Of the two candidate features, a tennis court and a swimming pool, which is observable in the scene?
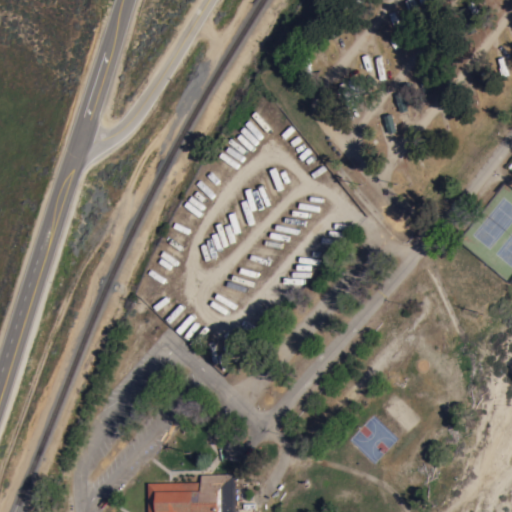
tennis court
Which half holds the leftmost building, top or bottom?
bottom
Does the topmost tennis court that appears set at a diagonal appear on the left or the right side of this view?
right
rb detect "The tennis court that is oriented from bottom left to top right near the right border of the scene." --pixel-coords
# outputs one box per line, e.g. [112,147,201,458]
[459,184,512,262]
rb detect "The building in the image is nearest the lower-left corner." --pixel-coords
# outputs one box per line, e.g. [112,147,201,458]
[147,476,236,512]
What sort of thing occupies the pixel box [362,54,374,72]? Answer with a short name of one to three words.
vehicle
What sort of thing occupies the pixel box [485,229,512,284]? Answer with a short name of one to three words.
tennis court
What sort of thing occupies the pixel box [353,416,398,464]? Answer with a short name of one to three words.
basketball court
